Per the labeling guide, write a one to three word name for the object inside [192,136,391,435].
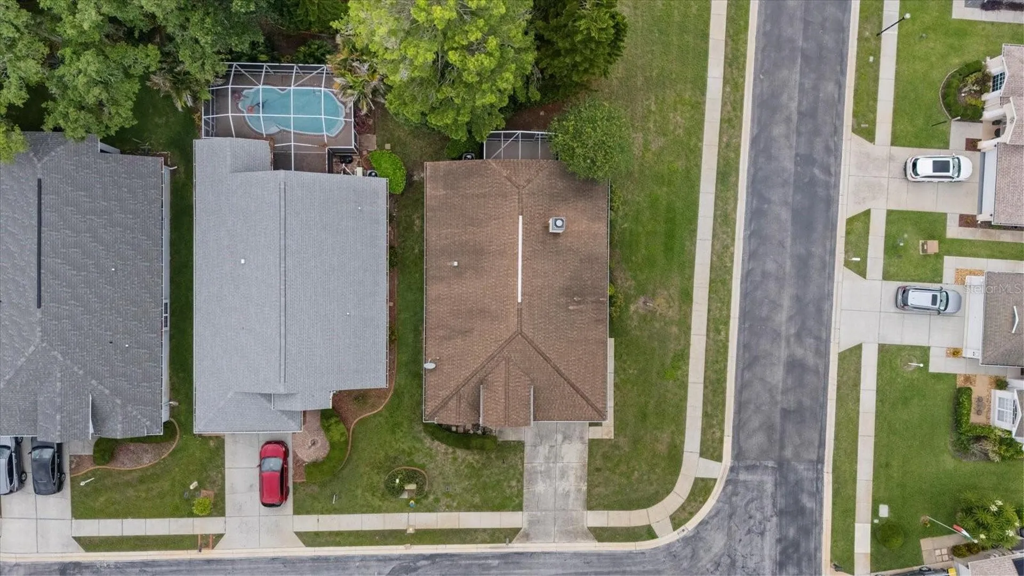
house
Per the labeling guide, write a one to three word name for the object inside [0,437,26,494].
car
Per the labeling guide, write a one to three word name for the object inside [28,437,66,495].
car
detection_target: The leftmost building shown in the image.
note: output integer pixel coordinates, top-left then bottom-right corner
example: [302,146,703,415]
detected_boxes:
[0,131,178,443]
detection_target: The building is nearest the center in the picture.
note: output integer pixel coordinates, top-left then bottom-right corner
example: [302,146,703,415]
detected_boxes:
[423,158,610,427]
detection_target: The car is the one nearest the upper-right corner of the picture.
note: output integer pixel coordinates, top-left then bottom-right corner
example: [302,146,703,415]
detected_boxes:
[903,151,973,185]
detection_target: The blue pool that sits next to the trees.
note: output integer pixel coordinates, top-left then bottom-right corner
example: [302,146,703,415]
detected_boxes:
[238,84,346,137]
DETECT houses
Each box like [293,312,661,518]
[192,136,391,435]
[956,545,1024,576]
[423,158,610,427]
[963,269,1024,438]
[977,42,1024,228]
[0,131,178,443]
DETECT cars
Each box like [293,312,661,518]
[893,284,962,318]
[255,441,290,505]
[28,437,66,495]
[903,151,973,185]
[0,437,26,494]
